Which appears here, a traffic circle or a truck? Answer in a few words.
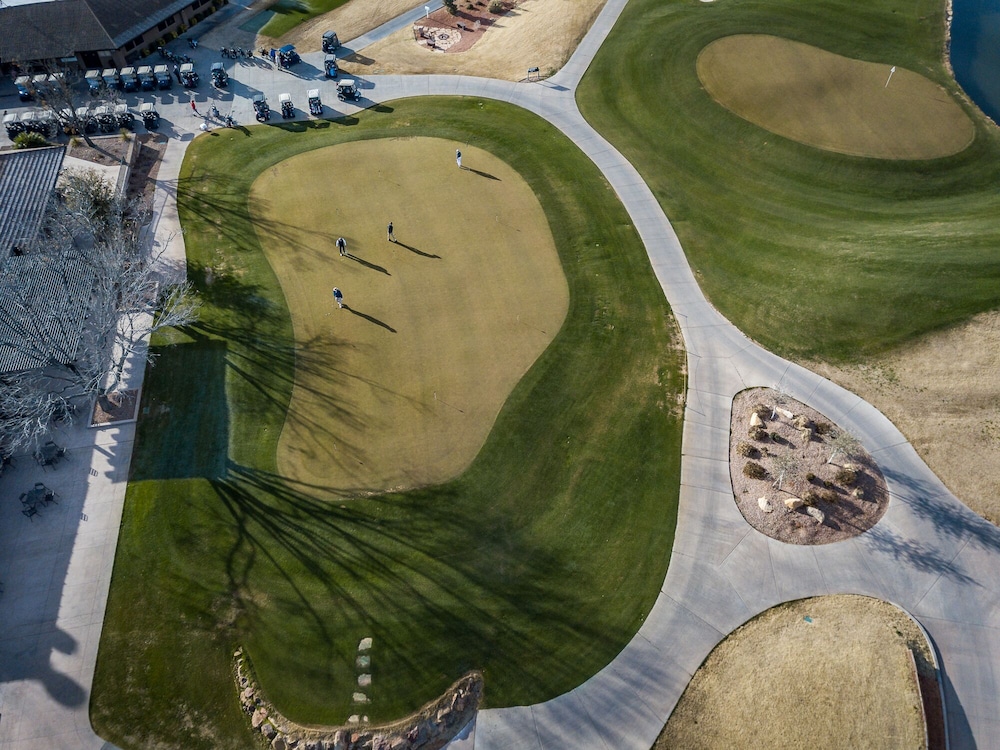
traffic circle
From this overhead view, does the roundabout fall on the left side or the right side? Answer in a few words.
right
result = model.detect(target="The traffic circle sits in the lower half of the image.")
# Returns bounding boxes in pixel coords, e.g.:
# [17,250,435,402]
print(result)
[729,386,890,545]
